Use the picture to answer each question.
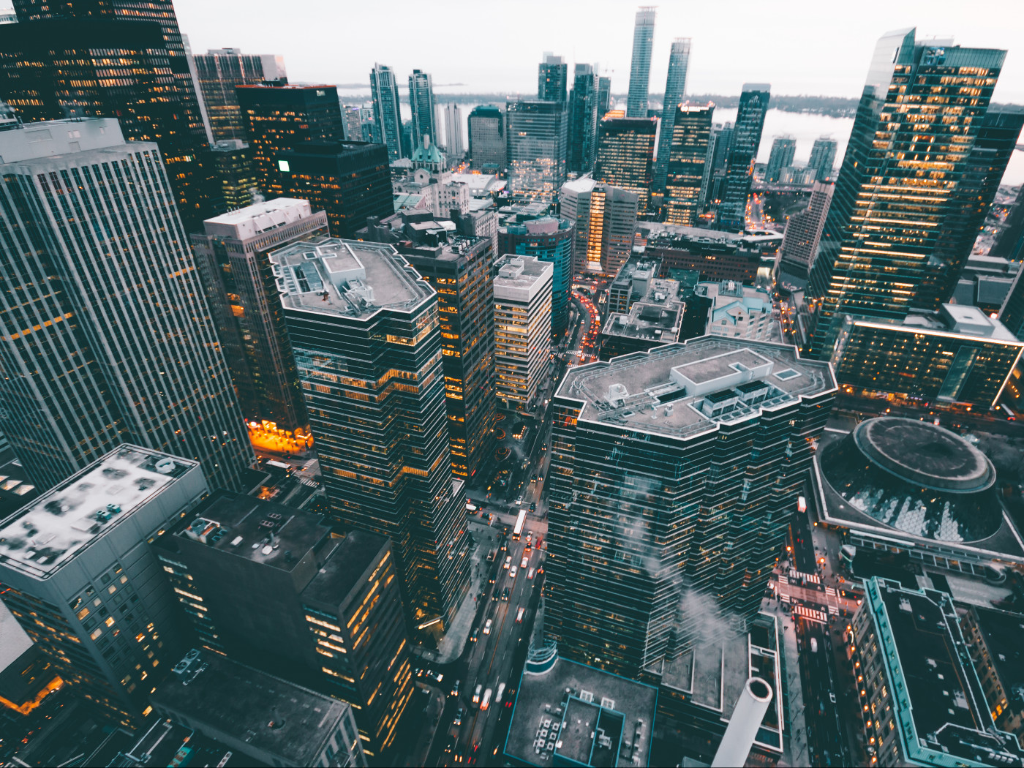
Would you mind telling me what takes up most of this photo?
buildings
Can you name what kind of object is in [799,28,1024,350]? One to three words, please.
building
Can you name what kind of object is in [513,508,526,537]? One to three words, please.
vehicle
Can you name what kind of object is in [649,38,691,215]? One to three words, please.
building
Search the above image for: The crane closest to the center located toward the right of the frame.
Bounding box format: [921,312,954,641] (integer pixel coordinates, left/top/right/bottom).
[605,377,636,422]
